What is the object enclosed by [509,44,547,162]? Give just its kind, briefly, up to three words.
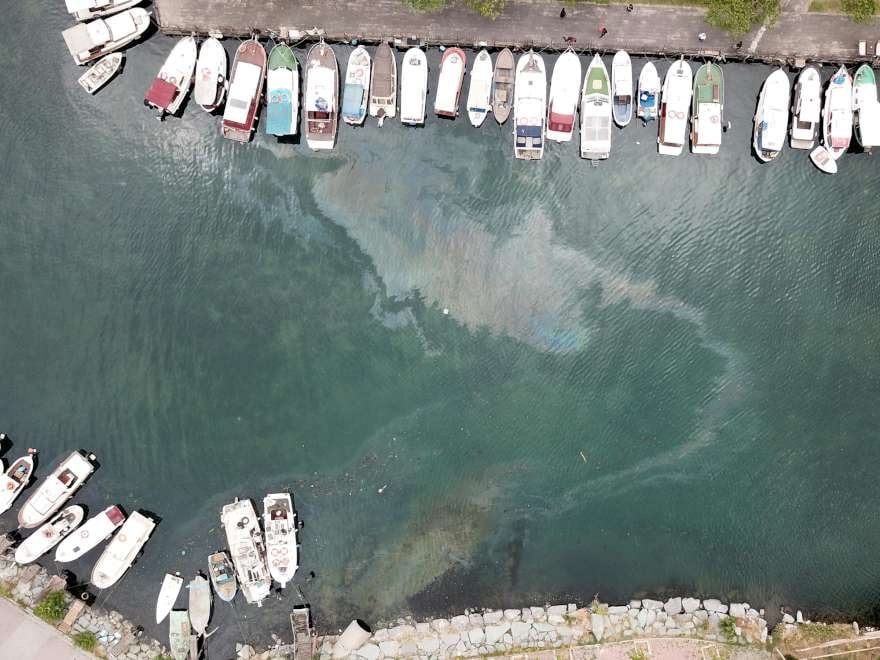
boat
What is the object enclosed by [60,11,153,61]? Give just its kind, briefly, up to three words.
boat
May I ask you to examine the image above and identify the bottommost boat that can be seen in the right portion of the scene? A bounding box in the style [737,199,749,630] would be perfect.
[805,144,838,174]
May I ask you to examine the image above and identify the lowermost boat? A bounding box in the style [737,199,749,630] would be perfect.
[168,608,192,660]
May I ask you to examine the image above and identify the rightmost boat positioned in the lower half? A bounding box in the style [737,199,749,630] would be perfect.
[263,491,303,593]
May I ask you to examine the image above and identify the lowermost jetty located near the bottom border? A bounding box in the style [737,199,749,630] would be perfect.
[292,605,315,660]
